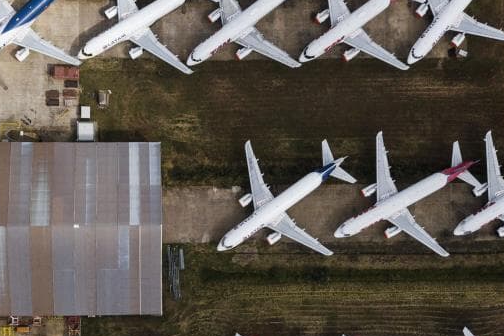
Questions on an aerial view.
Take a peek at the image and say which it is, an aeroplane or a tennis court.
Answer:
aeroplane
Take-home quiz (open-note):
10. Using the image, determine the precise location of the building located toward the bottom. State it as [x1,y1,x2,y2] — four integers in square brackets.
[0,141,163,317]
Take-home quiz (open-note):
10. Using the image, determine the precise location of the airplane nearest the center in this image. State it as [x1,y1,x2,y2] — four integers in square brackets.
[217,138,359,256]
